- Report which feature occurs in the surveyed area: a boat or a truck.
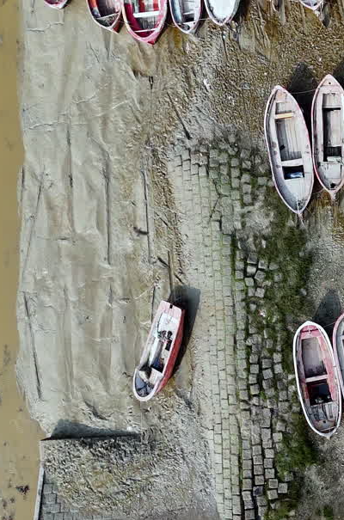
boat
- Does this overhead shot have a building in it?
No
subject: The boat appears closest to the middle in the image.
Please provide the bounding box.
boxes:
[132,297,180,399]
